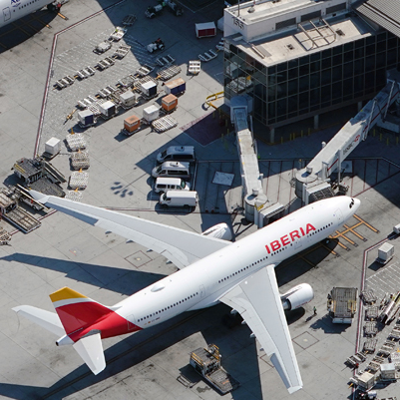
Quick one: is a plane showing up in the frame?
Yes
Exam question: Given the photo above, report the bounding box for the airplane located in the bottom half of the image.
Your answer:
[12,186,363,392]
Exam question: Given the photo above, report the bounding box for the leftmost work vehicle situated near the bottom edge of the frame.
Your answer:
[185,335,237,394]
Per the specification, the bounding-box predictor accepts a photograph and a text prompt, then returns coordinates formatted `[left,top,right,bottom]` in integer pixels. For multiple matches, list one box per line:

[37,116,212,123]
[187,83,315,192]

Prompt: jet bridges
[226,94,287,221]
[294,69,400,199]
